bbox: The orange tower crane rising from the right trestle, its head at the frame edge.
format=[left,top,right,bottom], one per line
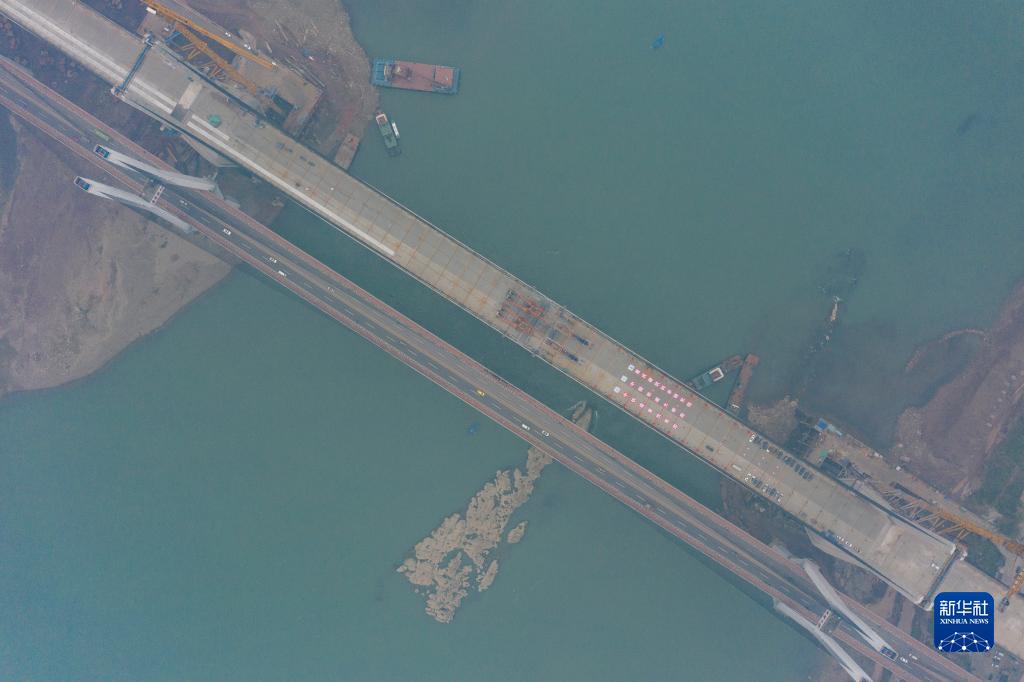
[861,479,1024,606]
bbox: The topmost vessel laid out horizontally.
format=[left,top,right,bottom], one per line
[371,57,460,94]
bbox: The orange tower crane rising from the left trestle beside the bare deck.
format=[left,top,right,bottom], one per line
[140,0,275,100]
